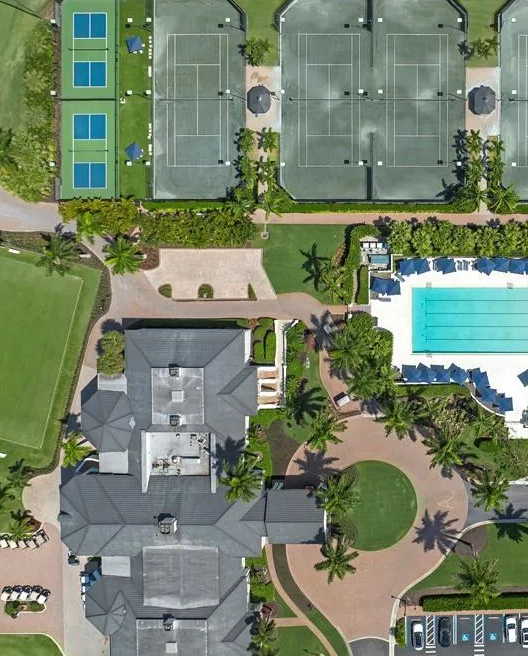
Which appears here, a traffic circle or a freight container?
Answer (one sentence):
This aerial view contains a traffic circle.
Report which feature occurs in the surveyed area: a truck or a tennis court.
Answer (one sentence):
There is a tennis court in the scene.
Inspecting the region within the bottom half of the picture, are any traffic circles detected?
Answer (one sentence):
Yes, a traffic circle is visible within the bottom half of the picture.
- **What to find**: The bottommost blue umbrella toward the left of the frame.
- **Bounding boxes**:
[125,141,146,162]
